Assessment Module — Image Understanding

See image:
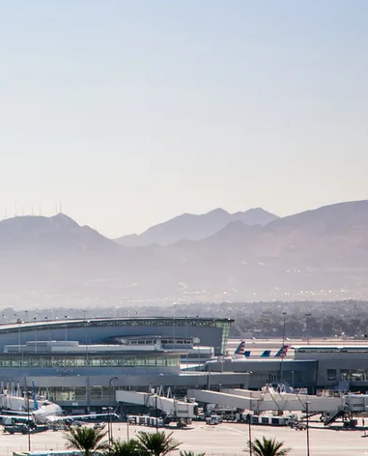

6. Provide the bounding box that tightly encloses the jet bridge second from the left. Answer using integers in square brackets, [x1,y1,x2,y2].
[109,379,196,422]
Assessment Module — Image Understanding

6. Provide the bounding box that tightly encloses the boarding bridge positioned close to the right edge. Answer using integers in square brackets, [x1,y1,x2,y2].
[247,386,368,427]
